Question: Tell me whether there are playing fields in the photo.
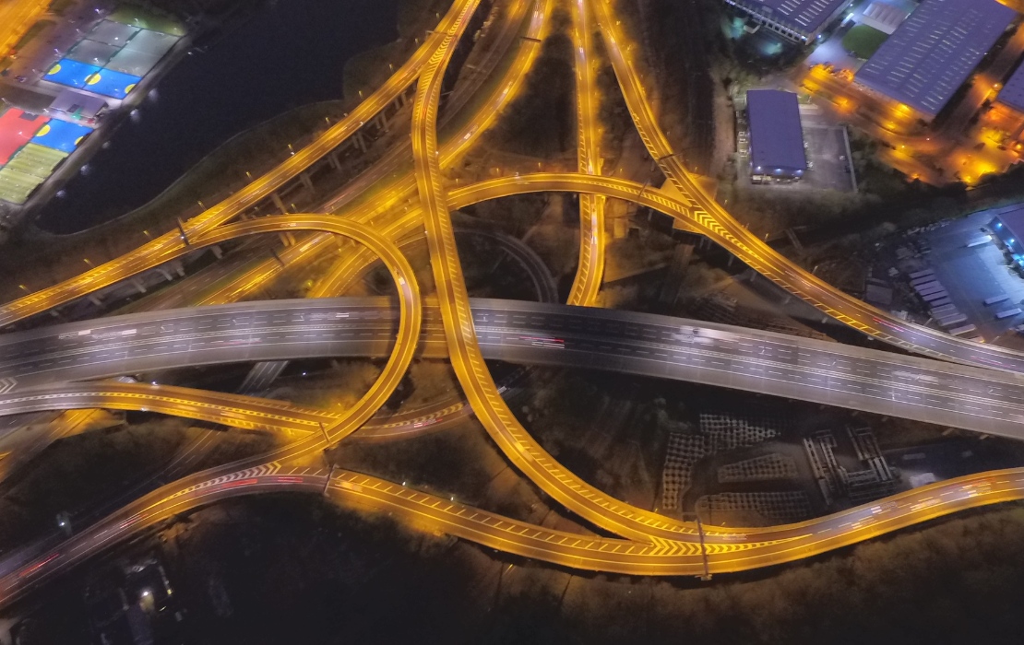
Yes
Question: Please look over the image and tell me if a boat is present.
No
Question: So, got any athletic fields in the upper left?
Yes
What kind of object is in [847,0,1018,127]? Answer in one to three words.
warehouse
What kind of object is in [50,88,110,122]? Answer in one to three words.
building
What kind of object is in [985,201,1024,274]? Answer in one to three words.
building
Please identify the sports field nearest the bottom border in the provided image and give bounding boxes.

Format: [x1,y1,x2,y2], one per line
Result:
[0,140,68,203]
